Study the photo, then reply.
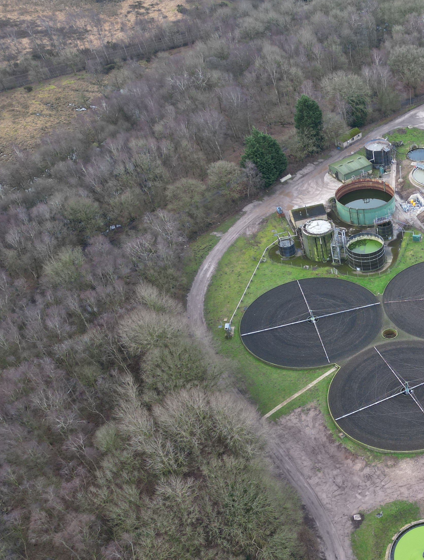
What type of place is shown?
industrial area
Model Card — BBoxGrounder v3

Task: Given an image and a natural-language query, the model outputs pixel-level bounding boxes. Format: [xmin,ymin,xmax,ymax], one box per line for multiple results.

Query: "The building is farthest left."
[287,200,327,229]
